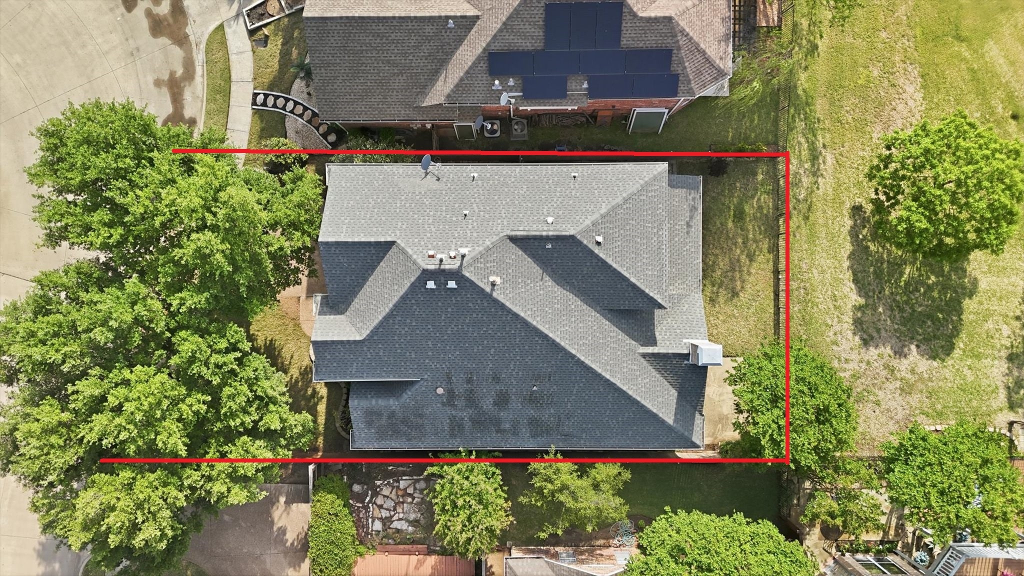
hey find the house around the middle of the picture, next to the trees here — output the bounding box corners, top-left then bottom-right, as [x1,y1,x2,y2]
[312,161,722,450]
